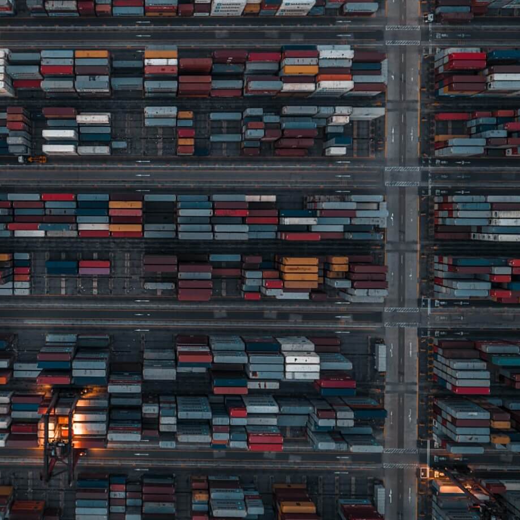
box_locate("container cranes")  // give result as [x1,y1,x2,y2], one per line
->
[431,473,506,520]
[44,387,89,483]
